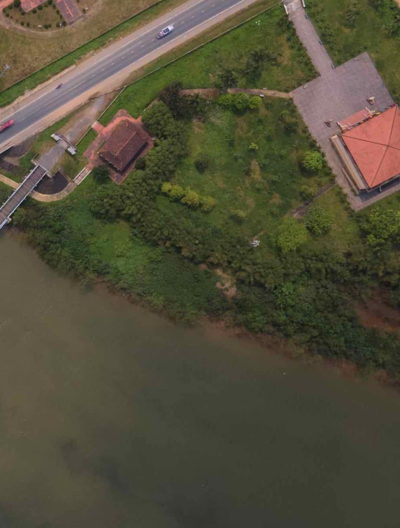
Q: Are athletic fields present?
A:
No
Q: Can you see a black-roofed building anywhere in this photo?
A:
No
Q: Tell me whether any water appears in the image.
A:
Yes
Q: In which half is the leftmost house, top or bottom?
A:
top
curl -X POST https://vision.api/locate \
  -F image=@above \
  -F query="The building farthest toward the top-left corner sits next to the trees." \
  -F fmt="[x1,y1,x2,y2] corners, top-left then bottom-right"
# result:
[97,118,150,171]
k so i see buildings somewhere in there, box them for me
[97,118,150,171]
[326,105,400,189]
